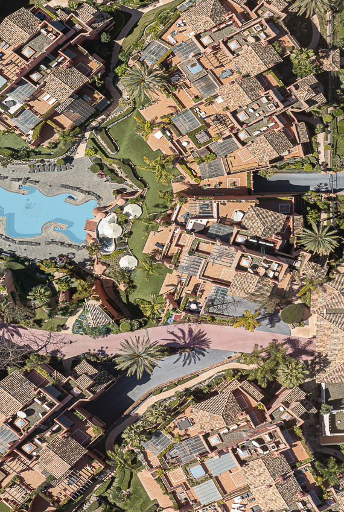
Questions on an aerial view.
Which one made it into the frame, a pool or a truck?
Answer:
pool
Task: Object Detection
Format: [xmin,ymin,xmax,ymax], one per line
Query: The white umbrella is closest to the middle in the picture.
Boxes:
[119,254,137,272]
